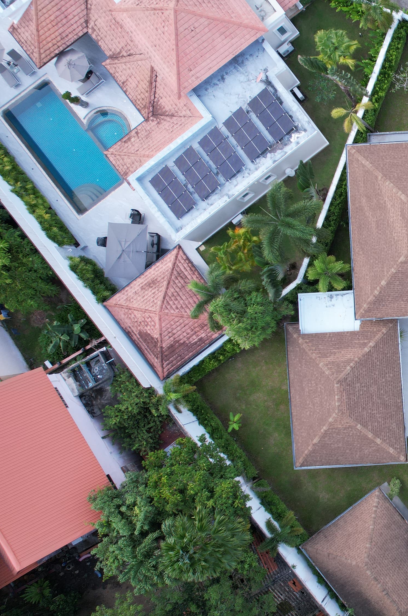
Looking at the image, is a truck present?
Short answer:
No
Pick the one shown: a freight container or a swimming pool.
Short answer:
swimming pool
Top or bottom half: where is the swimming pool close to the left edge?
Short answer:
top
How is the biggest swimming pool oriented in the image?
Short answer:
on a diagonal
